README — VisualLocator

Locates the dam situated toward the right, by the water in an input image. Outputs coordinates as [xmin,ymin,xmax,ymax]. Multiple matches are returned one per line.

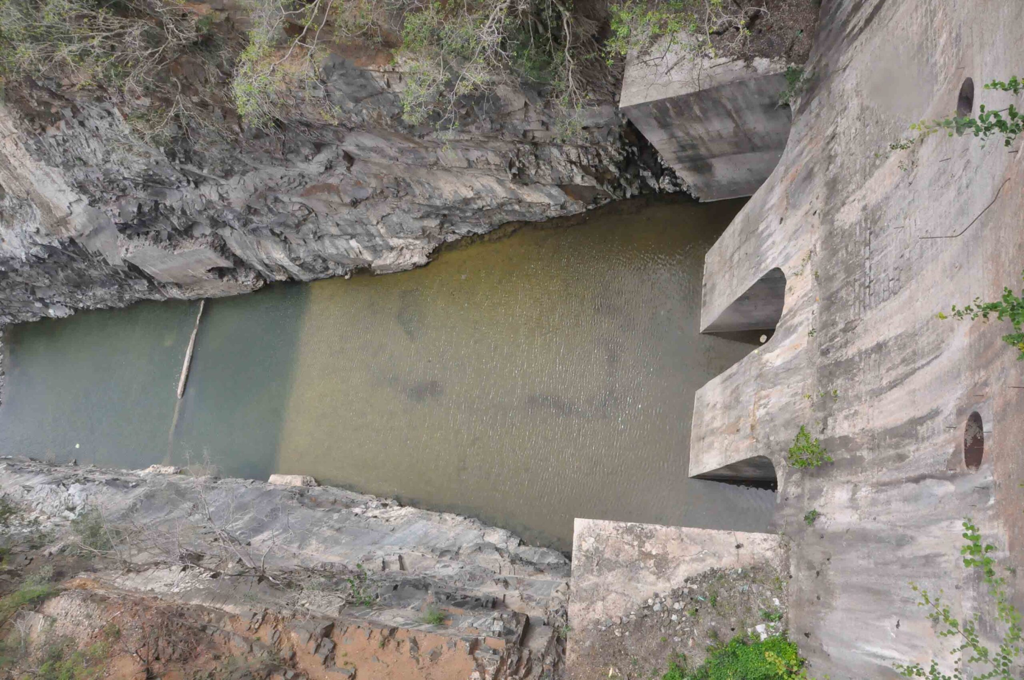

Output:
[690,0,1024,680]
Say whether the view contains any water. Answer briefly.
Yes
